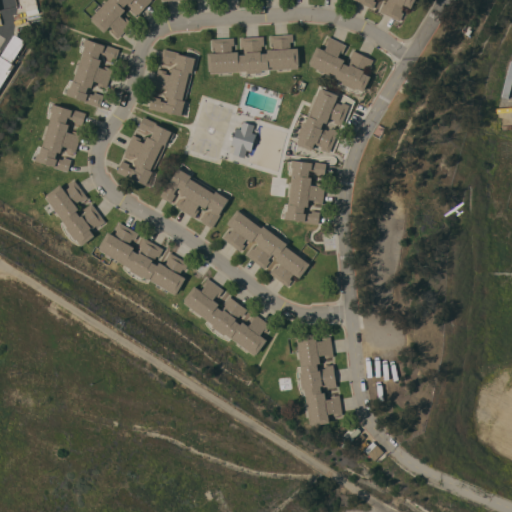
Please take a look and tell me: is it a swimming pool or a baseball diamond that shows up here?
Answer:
swimming pool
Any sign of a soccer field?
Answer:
No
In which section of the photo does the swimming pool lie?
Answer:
top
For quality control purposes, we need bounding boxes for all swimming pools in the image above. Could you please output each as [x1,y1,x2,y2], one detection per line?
[238,83,283,120]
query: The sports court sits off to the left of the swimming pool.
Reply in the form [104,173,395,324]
[192,100,232,158]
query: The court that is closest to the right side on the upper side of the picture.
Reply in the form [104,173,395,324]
[250,118,286,171]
